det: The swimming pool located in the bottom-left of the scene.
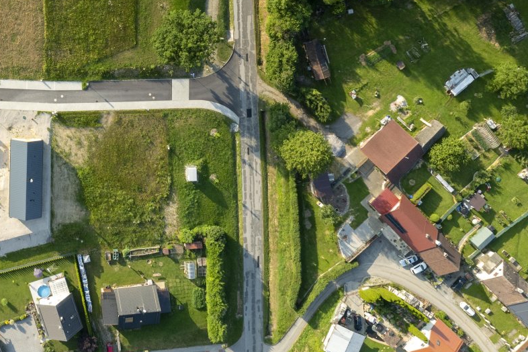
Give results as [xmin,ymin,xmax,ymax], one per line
[38,286,51,299]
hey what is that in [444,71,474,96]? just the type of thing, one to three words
shed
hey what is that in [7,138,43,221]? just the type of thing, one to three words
house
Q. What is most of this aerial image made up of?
grass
